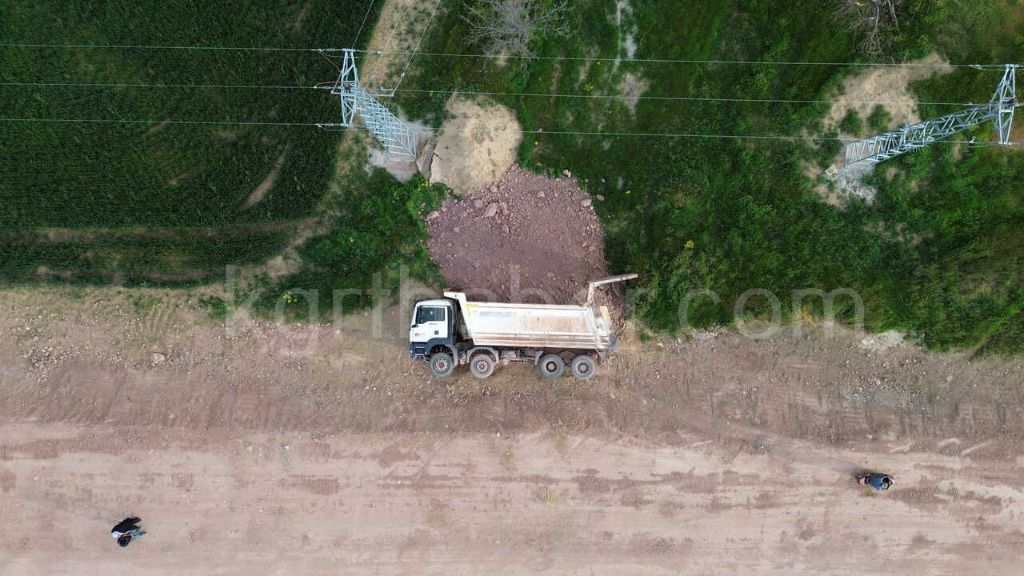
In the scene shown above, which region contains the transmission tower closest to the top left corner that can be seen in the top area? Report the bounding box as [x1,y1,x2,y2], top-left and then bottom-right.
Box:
[314,45,421,159]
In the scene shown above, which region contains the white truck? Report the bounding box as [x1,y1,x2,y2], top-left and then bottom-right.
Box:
[410,274,639,380]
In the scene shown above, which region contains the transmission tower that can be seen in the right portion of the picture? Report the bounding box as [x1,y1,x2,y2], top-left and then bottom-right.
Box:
[836,61,1024,171]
